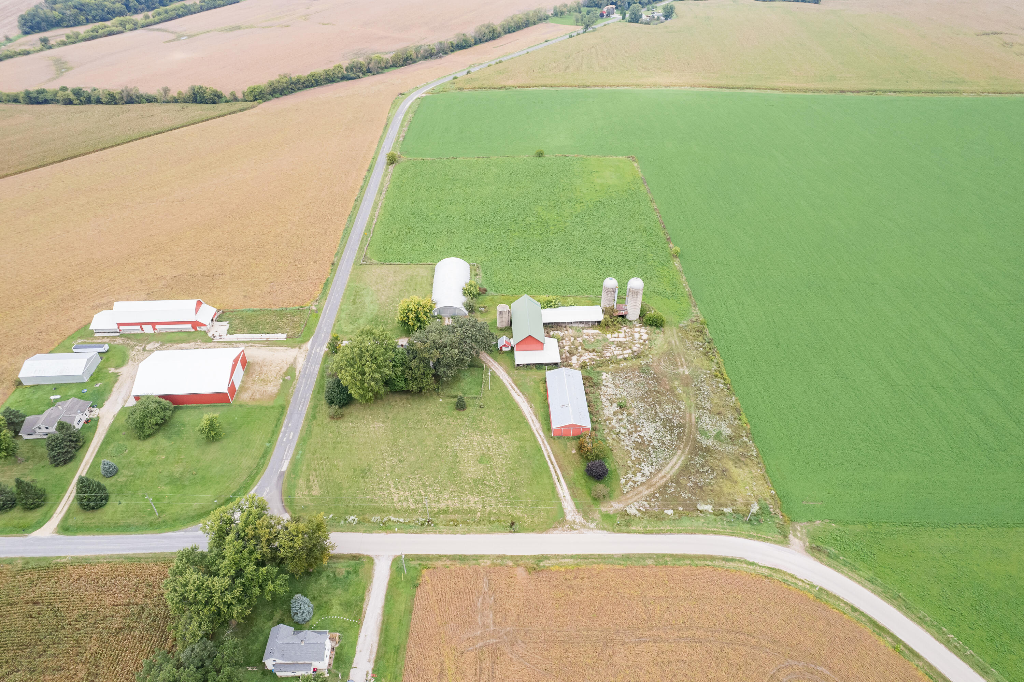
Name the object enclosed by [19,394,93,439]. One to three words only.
house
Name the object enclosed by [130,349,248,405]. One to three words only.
shed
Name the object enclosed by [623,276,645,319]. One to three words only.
silo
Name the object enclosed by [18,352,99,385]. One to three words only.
shed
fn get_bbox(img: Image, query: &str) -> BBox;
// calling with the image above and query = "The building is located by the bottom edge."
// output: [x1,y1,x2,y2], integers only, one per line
[263,622,331,676]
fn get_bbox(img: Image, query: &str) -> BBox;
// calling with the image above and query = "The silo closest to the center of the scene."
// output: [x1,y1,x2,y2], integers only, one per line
[497,303,511,327]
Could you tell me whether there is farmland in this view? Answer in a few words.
Yes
